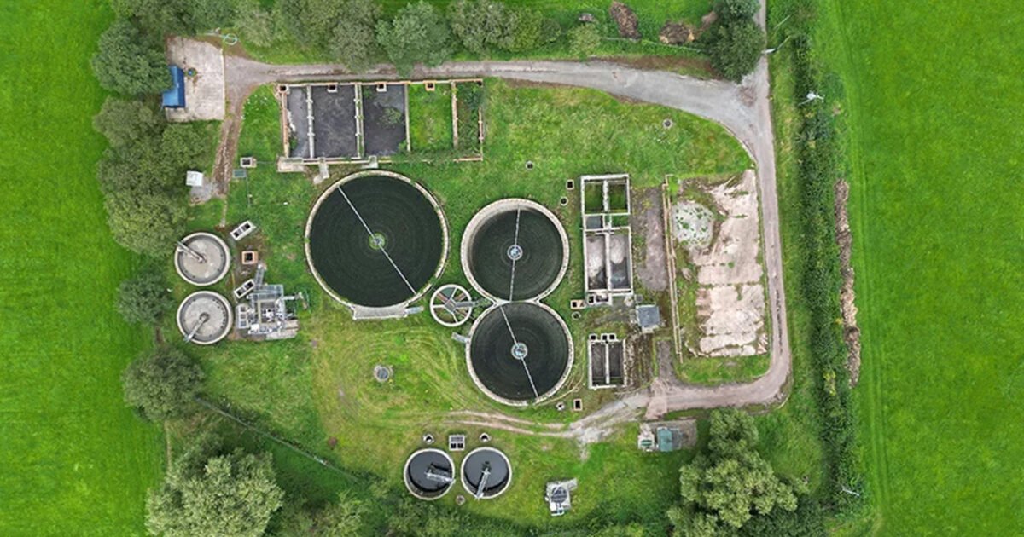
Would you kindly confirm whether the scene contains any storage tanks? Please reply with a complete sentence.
Yes, I can see a storage tank in this picture.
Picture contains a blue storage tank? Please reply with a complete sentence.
No, no blue storage tank is visible in the view.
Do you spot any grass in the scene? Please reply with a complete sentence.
Yes, there is grass in the image.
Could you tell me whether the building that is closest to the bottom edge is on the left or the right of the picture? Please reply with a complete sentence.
It is on the right.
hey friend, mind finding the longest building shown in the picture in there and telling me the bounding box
[637,420,697,452]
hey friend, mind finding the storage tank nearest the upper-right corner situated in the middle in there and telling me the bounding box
[580,173,635,308]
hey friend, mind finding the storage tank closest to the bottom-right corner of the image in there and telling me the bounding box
[588,339,627,389]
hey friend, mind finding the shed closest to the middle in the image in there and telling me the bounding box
[634,305,660,332]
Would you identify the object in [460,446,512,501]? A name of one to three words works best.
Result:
storage tank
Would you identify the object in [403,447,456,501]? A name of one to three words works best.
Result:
storage tank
